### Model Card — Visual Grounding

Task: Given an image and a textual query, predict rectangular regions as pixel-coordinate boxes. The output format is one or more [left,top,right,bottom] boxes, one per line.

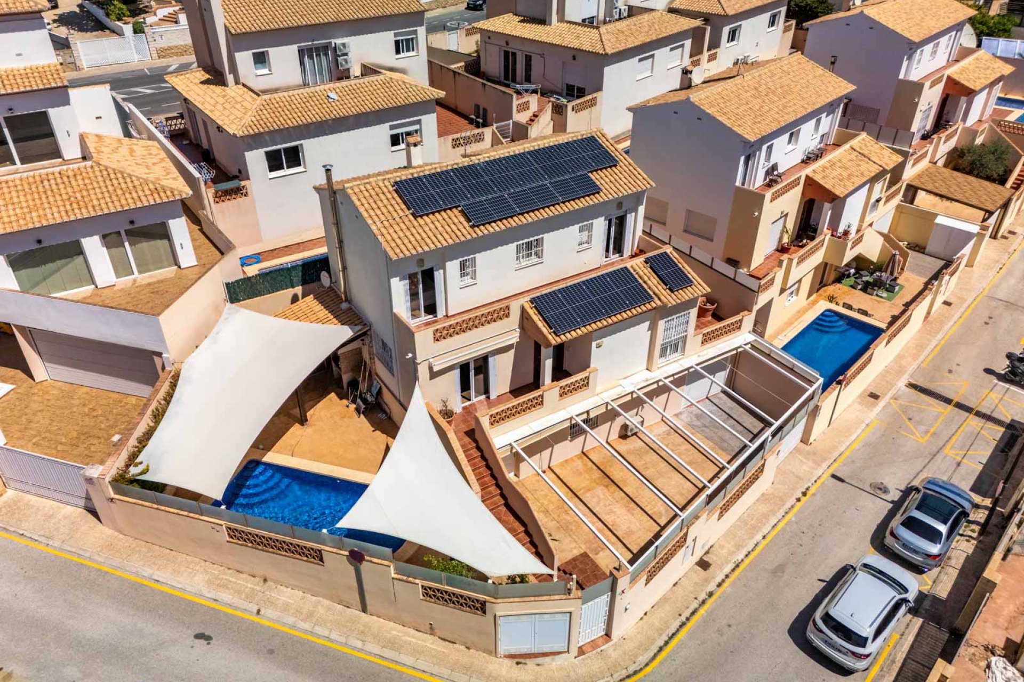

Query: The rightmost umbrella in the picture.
[886,229,913,270]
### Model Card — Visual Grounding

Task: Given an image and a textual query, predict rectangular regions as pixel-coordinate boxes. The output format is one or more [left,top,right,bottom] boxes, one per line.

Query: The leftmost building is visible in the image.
[0,0,246,392]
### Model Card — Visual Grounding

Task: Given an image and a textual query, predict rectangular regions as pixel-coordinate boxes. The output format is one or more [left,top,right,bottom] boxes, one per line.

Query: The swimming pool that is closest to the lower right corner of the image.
[775,306,882,382]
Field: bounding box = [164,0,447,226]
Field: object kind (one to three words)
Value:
house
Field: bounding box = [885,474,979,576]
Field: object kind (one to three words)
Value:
car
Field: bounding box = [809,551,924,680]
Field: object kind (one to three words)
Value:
car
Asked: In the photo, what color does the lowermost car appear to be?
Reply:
white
